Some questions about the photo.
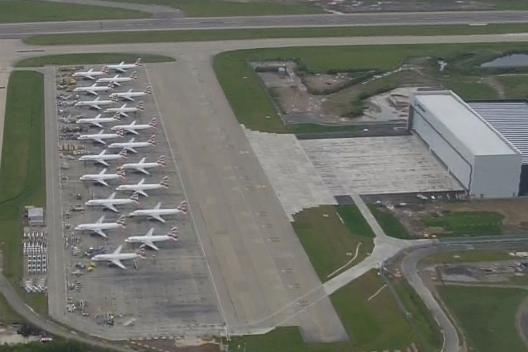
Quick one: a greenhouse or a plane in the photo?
plane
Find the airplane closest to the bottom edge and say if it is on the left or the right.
left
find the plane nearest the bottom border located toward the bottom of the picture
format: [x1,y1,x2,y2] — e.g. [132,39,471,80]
[91,245,146,268]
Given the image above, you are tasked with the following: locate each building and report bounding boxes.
[407,90,528,198]
[28,210,43,229]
